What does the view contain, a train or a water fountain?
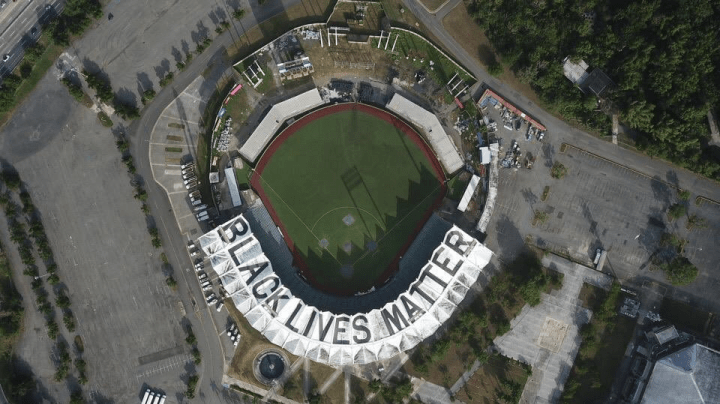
water fountain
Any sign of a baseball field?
Yes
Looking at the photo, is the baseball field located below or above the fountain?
above it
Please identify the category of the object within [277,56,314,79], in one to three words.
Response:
building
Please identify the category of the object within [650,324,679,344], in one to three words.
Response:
building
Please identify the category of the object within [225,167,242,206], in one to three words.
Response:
shed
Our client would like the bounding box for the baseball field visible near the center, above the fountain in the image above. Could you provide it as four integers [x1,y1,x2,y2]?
[250,103,447,296]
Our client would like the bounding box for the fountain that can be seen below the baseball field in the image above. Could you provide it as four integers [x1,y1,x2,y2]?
[252,348,290,385]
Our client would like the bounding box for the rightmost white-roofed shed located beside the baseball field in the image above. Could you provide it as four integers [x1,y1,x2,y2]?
[457,174,480,212]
